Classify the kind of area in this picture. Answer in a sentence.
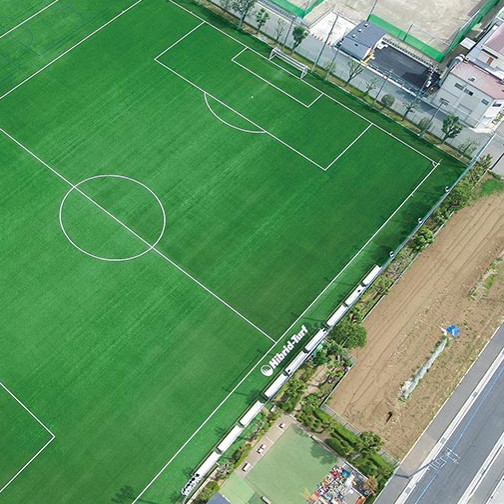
This looks like a sports ground.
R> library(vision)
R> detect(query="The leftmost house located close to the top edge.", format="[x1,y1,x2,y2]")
[335,22,386,74]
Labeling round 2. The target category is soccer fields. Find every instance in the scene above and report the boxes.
[0,0,467,504]
[0,0,141,97]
